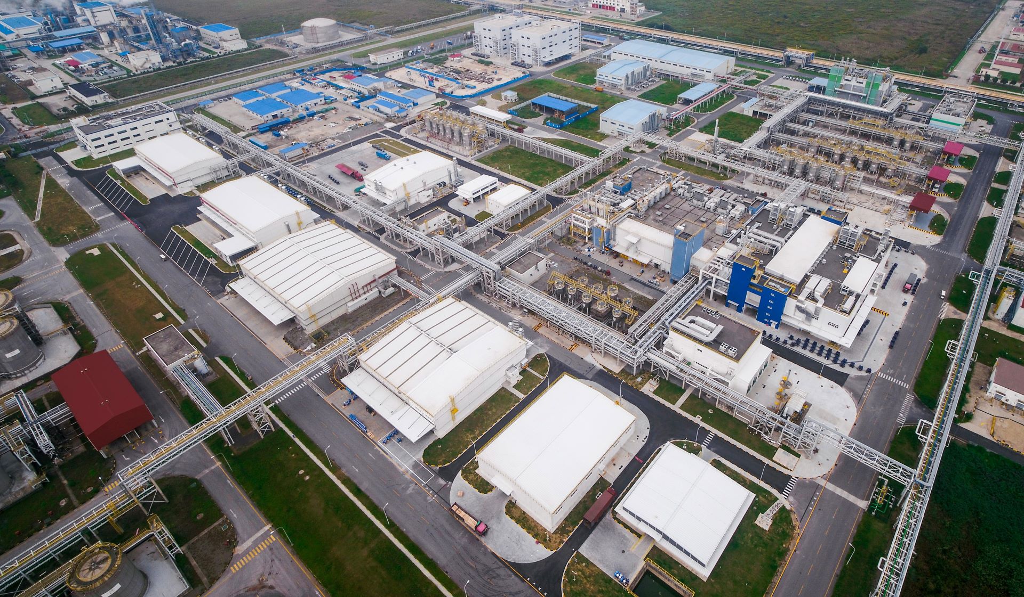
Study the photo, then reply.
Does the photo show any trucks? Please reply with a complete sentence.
Yes, a truck is visible in the scene.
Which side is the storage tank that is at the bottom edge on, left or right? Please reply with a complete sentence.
The storage tank that is at the bottom edge appears in the left half of the scene.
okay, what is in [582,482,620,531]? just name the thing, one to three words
truck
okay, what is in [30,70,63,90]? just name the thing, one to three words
building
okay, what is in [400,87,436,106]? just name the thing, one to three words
shed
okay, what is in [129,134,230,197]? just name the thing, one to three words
building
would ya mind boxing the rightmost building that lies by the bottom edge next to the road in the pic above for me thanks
[612,438,755,576]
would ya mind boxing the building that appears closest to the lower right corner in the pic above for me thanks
[987,356,1024,409]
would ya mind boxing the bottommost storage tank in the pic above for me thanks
[63,541,146,597]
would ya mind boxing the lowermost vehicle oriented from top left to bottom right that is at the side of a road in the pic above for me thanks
[447,497,489,532]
